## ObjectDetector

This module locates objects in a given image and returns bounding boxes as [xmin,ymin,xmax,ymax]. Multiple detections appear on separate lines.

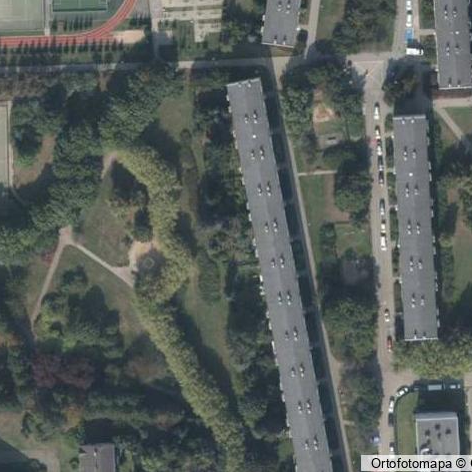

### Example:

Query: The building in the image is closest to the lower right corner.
[412,413,459,472]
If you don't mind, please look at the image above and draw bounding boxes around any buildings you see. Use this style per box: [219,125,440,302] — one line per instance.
[412,413,459,472]
[430,0,472,90]
[391,116,440,340]
[259,0,301,49]
[77,444,116,472]
[225,78,331,472]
